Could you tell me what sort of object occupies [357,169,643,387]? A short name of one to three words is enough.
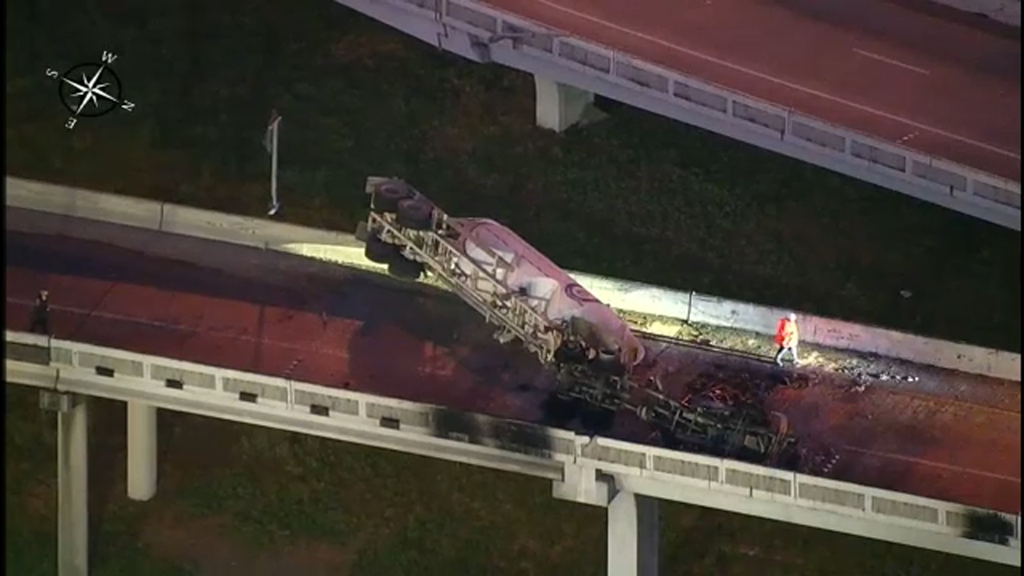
trailer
